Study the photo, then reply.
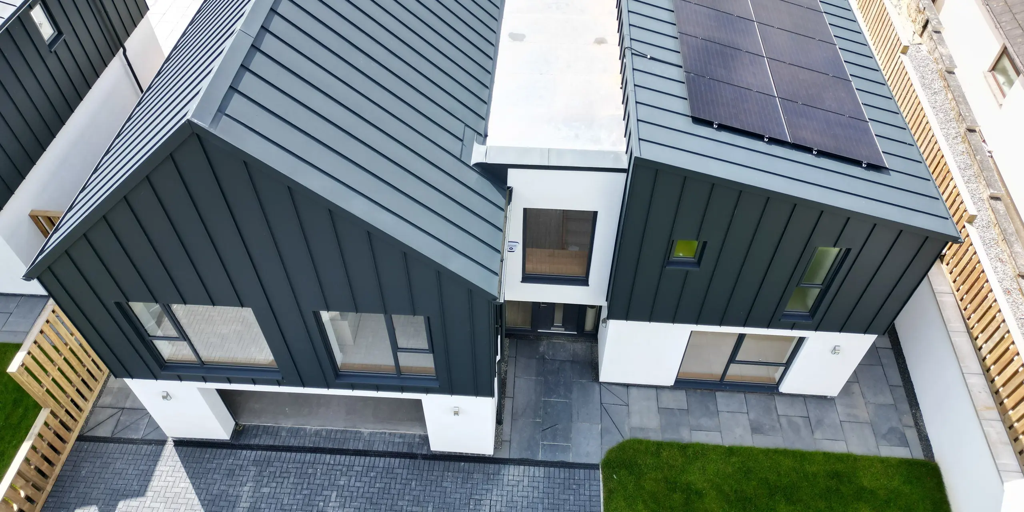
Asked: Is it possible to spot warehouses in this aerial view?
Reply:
No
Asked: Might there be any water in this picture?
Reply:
No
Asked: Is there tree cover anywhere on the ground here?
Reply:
No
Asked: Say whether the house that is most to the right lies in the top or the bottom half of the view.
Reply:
top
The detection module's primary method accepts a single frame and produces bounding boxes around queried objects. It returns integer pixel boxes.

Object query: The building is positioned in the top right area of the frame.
[930,0,1024,199]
